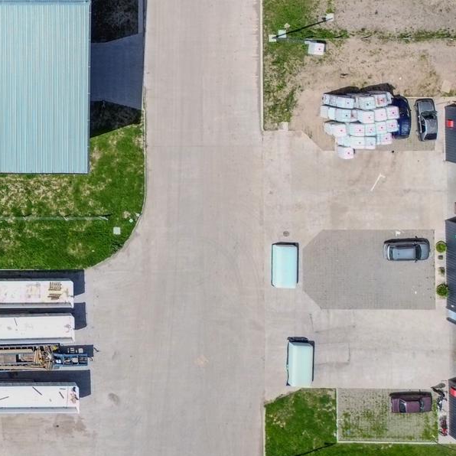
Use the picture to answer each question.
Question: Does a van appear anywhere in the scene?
Yes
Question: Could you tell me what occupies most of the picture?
paved ground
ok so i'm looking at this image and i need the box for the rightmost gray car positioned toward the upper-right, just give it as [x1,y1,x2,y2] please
[414,98,440,141]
